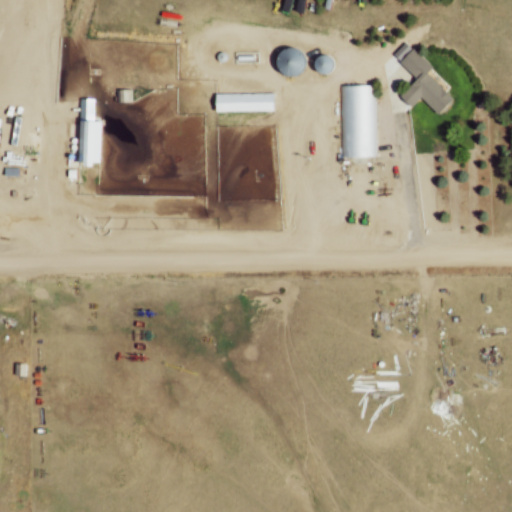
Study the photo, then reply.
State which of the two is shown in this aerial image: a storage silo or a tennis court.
storage silo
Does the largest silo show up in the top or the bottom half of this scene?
top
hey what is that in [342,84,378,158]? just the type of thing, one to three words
barn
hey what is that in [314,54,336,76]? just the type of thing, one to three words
silo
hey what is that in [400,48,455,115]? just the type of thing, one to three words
house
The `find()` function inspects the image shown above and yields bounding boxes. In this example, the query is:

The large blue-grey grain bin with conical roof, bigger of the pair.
[276,46,308,78]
